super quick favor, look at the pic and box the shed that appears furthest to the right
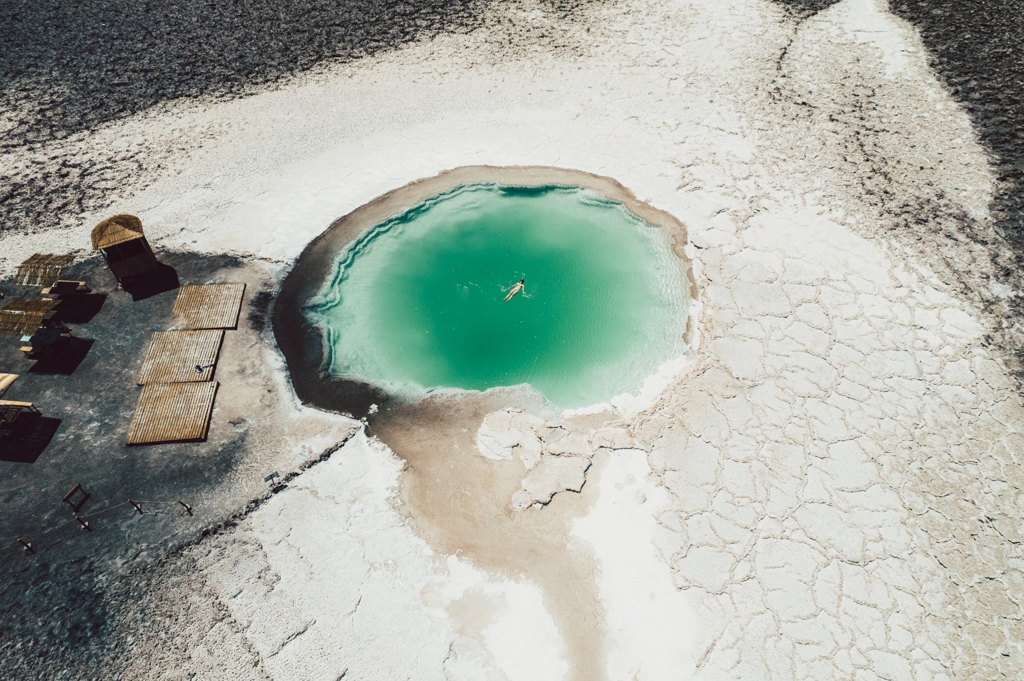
[88,212,162,283]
